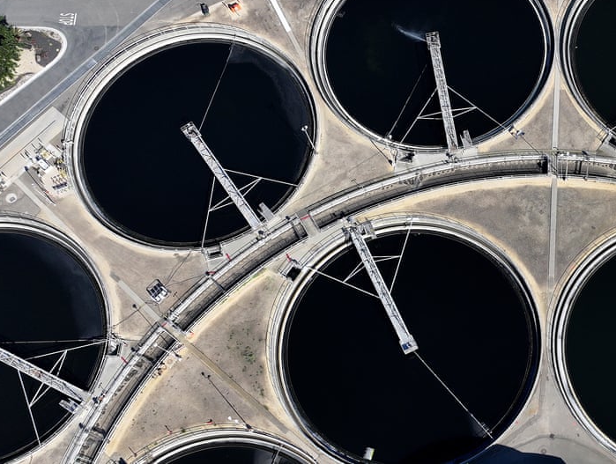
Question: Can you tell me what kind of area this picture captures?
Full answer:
The area seen from above is an industrial area.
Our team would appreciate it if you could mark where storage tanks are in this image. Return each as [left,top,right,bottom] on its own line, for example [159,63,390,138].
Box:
[264,211,546,464]
[128,427,323,464]
[0,210,115,464]
[305,0,557,155]
[557,0,616,140]
[59,20,320,253]
[547,229,616,464]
